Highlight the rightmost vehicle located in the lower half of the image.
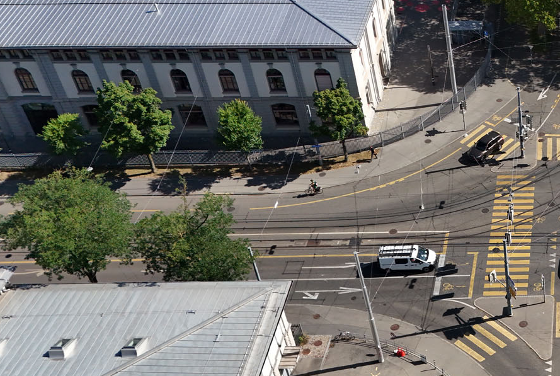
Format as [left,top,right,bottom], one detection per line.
[377,245,437,274]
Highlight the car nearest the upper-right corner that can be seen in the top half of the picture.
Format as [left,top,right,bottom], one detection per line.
[463,129,502,164]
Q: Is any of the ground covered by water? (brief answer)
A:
No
